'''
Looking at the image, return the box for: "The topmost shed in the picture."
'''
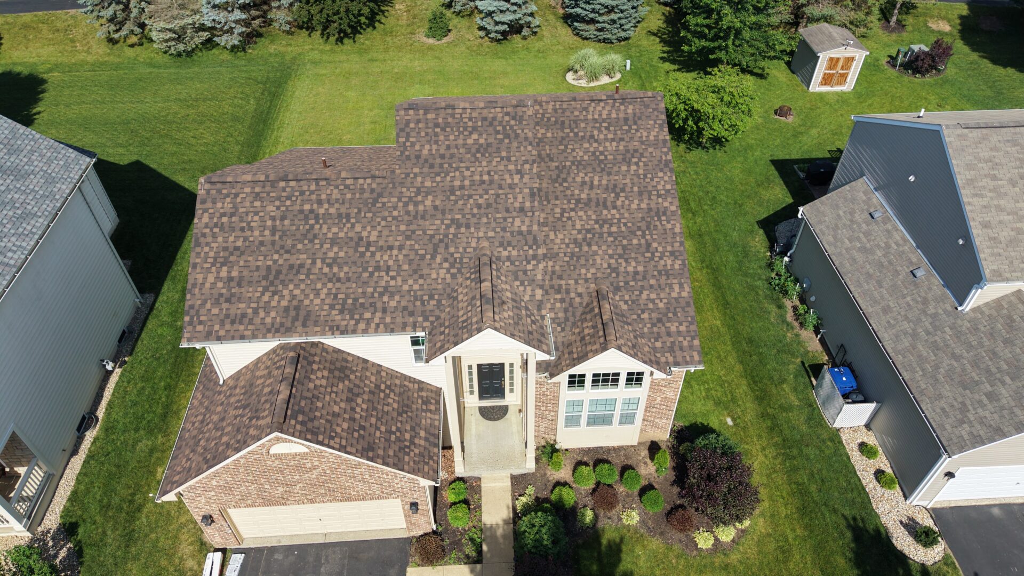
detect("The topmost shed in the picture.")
[793,17,871,89]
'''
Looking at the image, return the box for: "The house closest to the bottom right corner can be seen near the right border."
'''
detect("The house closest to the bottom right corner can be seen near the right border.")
[792,100,1024,509]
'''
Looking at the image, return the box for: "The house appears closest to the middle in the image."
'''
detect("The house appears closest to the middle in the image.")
[150,75,705,547]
